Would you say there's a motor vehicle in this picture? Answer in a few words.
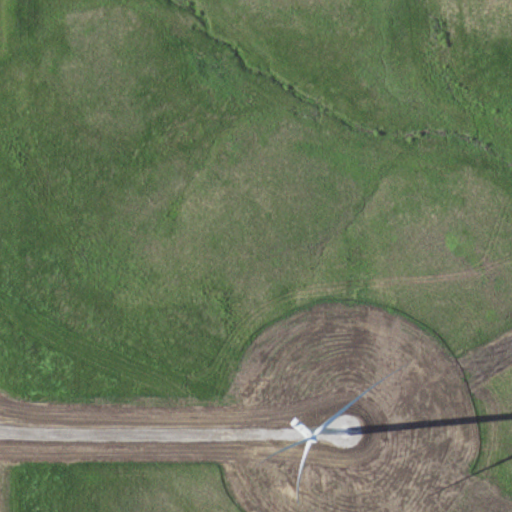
No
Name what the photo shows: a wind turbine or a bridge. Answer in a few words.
wind turbine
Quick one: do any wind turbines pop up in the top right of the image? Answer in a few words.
No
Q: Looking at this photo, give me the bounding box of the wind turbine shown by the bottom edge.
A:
[262,368,401,501]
